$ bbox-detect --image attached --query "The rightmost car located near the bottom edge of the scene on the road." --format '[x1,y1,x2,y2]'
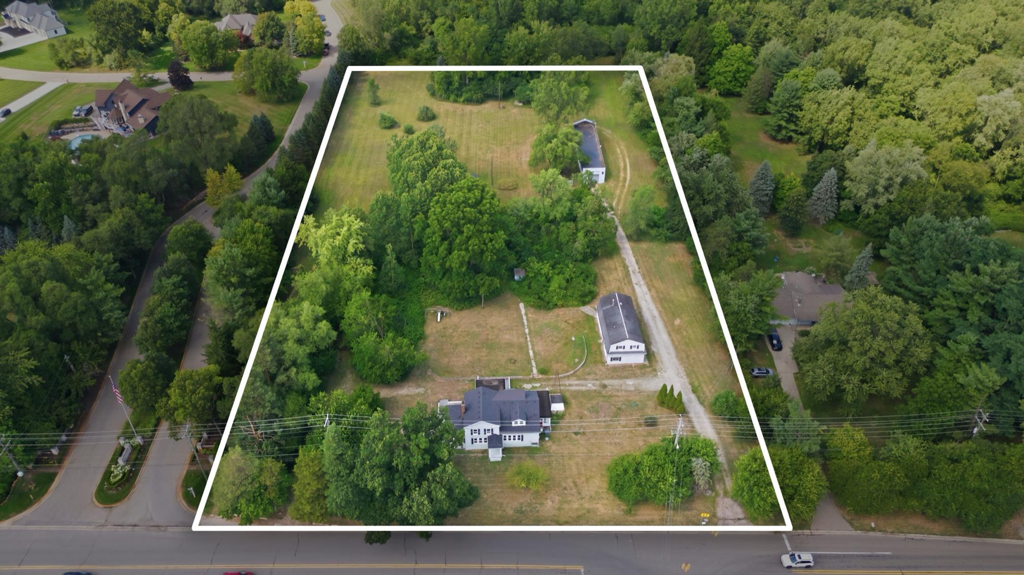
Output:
[780,552,817,569]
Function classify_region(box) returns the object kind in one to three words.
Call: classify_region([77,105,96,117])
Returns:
vehicle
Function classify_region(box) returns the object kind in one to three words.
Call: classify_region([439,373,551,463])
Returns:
house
